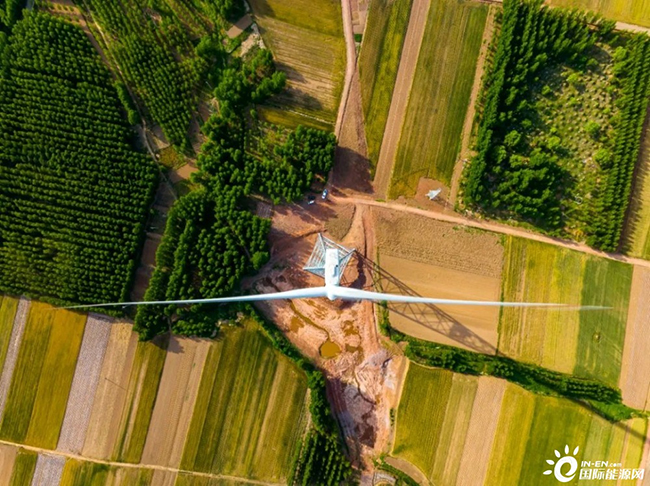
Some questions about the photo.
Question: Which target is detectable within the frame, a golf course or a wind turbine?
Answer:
wind turbine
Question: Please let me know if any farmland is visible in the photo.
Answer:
Yes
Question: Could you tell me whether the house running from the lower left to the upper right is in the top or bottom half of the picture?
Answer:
top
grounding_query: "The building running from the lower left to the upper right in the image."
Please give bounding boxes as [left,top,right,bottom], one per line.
[225,14,253,39]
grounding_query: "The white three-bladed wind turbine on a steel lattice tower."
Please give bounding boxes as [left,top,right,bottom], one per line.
[53,232,611,308]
